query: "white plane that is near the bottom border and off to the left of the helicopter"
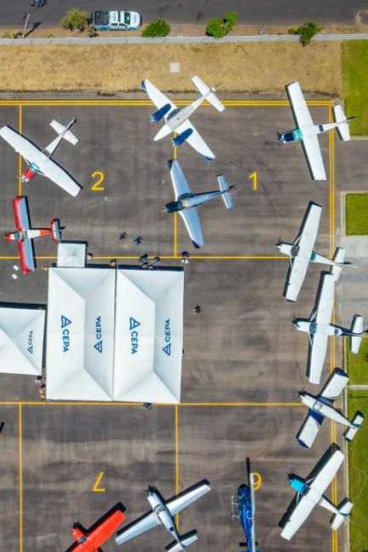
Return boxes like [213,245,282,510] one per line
[116,485,211,552]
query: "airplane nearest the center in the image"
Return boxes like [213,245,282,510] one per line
[162,162,234,246]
